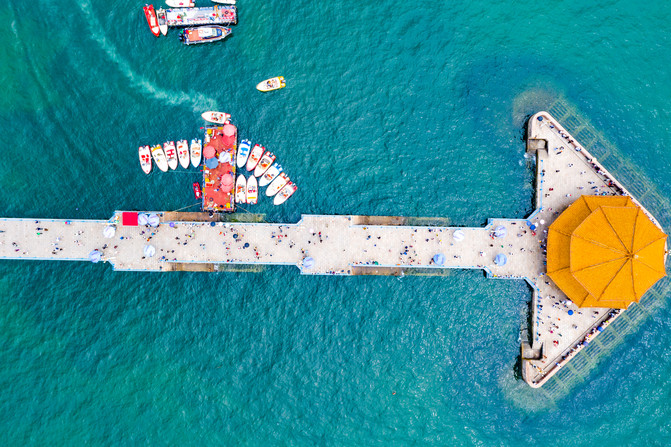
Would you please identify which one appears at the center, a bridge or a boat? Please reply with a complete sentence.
The one visible at the center is a boat.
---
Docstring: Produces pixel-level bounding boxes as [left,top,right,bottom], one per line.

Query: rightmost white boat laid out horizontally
[256,77,287,92]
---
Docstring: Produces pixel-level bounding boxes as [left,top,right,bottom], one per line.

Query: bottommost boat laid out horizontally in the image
[201,110,233,125]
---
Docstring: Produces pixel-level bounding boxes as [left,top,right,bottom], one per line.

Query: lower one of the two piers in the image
[0,109,671,389]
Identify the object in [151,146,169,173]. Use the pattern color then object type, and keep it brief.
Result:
white boat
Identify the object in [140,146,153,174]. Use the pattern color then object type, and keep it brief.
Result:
white boat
